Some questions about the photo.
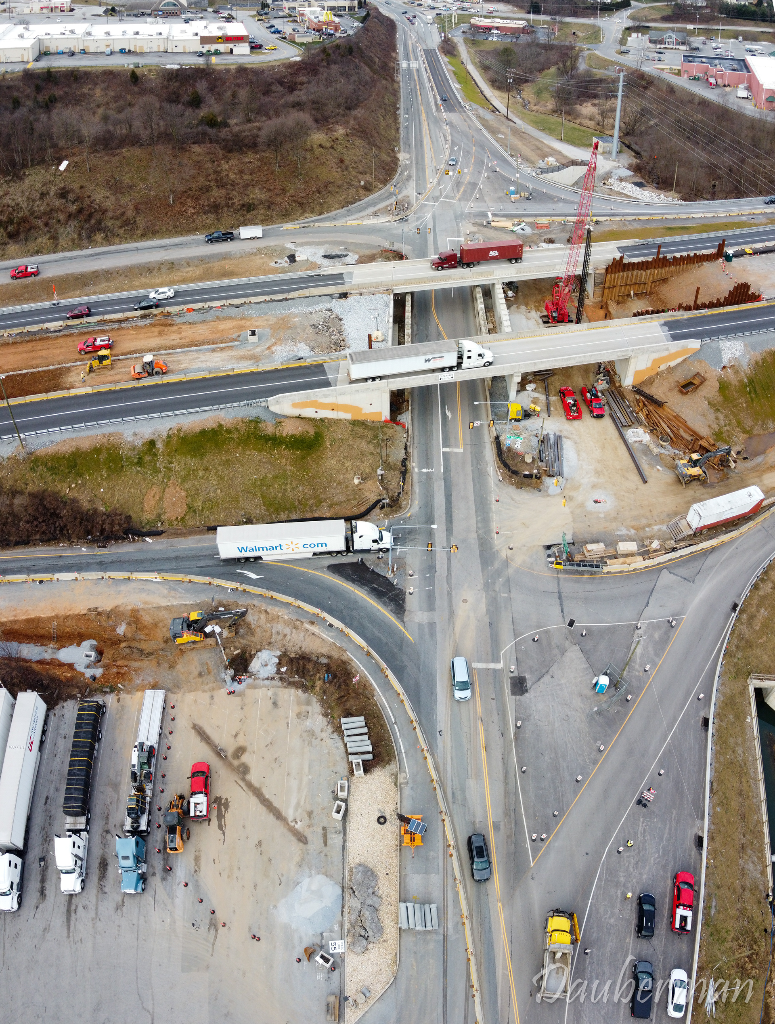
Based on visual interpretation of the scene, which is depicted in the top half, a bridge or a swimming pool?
bridge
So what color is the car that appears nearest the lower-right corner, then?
white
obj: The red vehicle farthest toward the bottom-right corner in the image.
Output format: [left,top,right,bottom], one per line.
[669,872,698,938]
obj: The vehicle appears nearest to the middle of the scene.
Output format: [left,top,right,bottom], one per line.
[329,520,395,556]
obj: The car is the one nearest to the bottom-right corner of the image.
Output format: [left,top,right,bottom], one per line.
[666,969,689,1020]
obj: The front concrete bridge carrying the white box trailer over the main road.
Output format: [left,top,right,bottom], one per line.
[269,315,699,407]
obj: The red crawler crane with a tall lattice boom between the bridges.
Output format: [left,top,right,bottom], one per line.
[534,137,602,328]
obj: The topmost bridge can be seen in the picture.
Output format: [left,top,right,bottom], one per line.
[322,240,639,291]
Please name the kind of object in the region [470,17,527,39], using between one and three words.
building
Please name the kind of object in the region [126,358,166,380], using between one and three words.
work vehicle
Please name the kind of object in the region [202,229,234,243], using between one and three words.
vehicle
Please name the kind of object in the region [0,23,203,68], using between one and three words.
building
